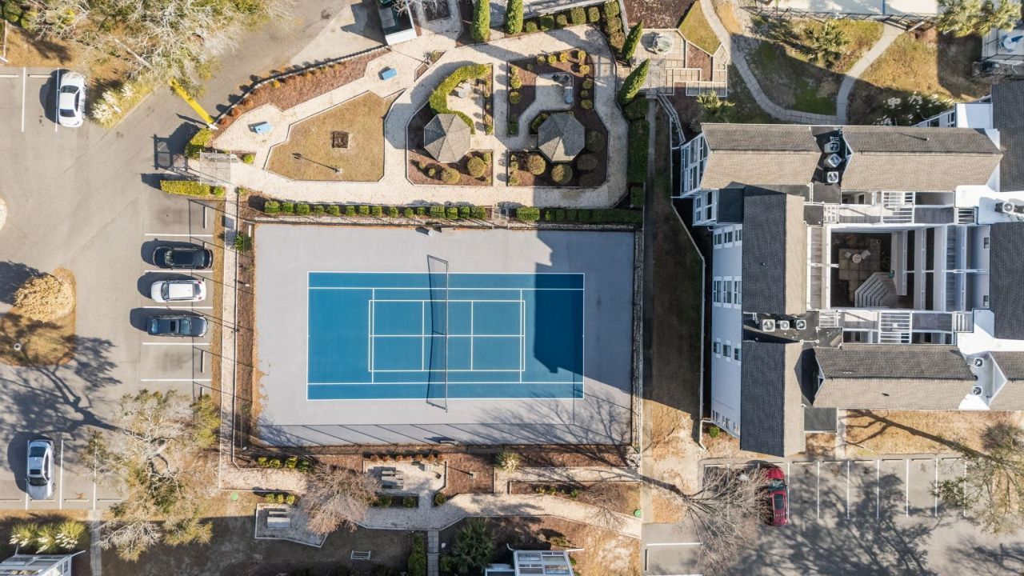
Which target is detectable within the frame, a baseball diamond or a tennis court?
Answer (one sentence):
Looking from above, you can make out a tennis court.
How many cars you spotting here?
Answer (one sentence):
I count 6 cars.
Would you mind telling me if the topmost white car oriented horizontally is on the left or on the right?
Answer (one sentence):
The topmost white car oriented horizontally is on the left side of the image.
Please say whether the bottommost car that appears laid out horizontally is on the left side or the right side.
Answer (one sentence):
The bottommost car that appears laid out horizontally sits on the left side.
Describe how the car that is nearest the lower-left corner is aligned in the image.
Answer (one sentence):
What the image shows is the car that is nearest the lower-left corner lying up and down.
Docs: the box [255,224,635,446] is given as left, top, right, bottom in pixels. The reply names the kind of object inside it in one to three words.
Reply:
tennis court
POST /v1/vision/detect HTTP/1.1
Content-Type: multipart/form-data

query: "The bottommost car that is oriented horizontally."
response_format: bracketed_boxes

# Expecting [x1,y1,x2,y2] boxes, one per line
[147,312,208,338]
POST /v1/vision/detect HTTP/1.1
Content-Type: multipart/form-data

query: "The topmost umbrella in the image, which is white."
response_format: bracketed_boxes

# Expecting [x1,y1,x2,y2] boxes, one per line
[657,30,678,50]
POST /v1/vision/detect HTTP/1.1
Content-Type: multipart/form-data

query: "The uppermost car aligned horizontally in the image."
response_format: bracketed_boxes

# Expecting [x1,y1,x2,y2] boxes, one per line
[154,243,214,270]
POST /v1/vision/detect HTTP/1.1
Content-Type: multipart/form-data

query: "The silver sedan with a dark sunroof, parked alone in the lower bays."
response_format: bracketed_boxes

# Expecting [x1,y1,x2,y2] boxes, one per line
[25,440,56,498]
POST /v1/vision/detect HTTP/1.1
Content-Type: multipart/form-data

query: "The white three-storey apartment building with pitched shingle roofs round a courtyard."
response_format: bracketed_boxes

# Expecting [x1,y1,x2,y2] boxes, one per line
[682,76,1024,462]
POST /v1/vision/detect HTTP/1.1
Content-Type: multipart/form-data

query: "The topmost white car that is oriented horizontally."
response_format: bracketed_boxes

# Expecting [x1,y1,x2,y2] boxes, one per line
[152,278,206,303]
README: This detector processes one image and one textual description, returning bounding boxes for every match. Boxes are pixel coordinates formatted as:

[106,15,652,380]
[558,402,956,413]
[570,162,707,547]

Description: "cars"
[761,466,789,525]
[154,243,214,270]
[25,440,56,498]
[147,312,208,338]
[57,71,87,128]
[152,278,206,303]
